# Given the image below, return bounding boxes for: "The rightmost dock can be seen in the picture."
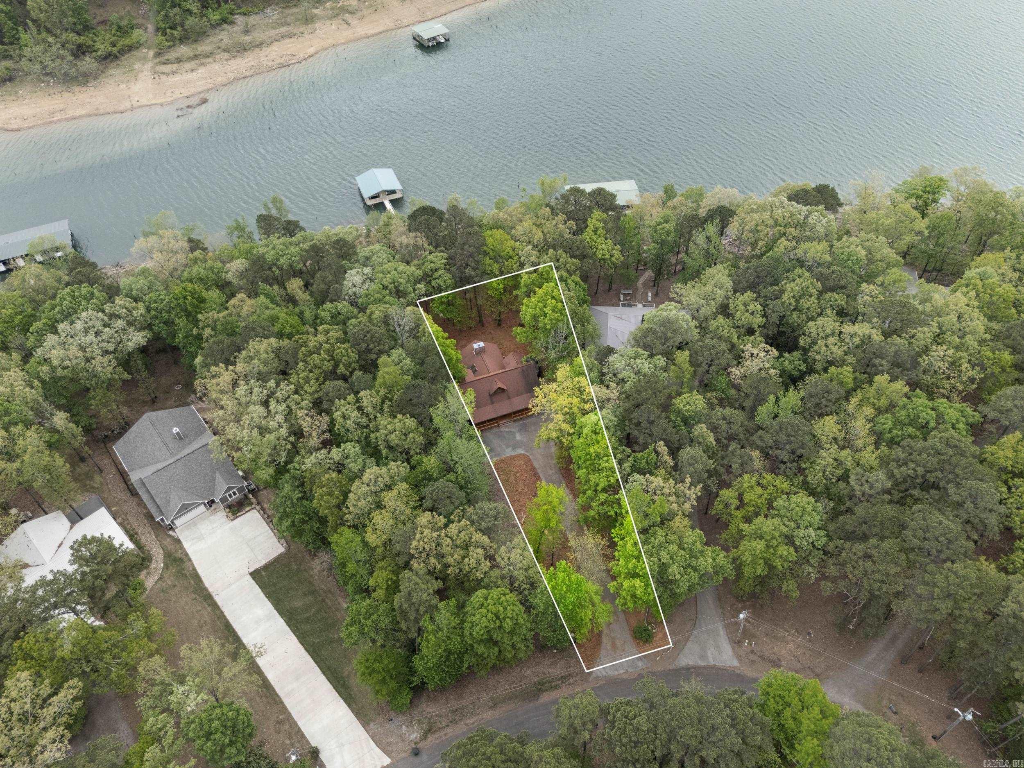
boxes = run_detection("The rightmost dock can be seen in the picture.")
[585,179,646,214]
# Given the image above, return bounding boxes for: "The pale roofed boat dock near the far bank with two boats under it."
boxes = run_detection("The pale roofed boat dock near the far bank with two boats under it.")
[409,22,451,48]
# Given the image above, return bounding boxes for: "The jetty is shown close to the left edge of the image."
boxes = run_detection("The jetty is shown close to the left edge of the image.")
[0,219,75,268]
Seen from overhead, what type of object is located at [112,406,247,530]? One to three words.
house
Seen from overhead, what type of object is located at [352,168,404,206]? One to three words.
pier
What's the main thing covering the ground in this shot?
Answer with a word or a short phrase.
trees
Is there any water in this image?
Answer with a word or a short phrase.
Yes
